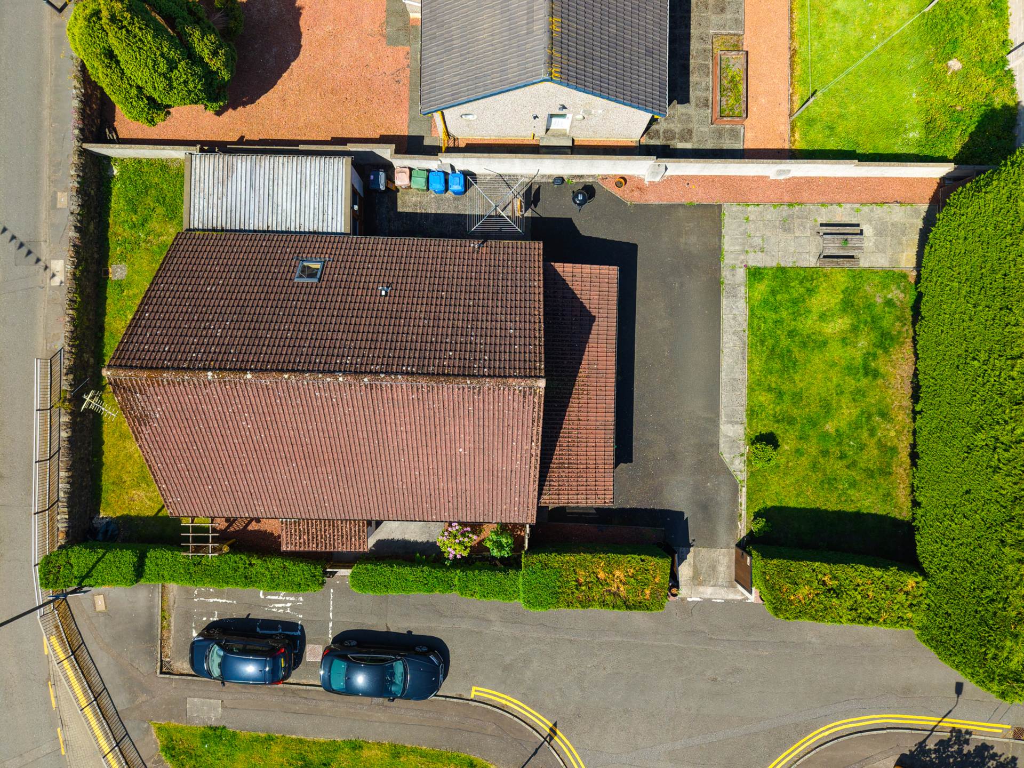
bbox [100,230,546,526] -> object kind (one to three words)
house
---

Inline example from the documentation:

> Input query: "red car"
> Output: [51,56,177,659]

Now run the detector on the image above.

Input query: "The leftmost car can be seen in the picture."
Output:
[188,629,294,691]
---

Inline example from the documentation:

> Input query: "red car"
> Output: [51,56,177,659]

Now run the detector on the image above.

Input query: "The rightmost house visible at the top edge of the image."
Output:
[418,0,671,152]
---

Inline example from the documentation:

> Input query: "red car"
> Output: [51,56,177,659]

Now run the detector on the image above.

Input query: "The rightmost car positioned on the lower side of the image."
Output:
[318,641,443,709]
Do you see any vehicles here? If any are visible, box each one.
[318,641,443,709]
[188,629,294,691]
